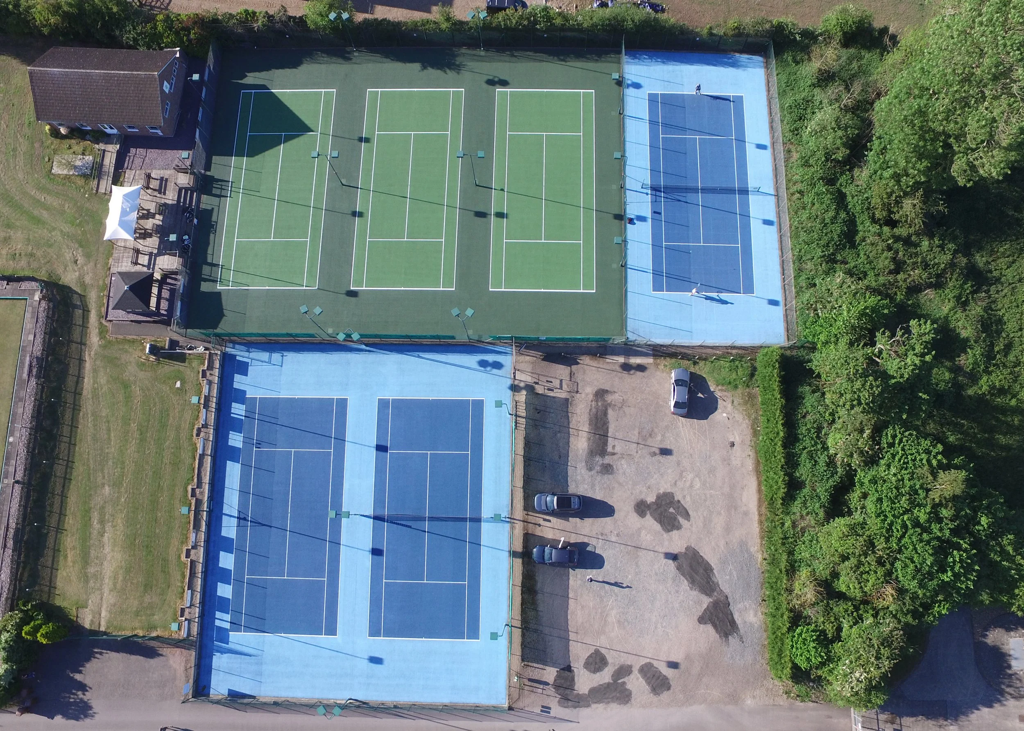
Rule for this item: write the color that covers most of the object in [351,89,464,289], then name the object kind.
green tennis court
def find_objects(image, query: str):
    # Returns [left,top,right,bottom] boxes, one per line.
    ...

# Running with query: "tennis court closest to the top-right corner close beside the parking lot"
[648,92,755,294]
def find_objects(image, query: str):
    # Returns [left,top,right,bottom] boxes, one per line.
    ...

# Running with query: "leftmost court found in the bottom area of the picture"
[229,396,349,637]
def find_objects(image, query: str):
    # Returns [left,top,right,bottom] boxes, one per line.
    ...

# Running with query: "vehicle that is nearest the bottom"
[532,537,579,566]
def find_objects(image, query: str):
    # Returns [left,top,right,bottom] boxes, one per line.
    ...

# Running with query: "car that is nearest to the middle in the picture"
[533,491,582,514]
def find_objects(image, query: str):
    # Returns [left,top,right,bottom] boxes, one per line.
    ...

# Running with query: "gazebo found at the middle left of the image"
[111,271,161,314]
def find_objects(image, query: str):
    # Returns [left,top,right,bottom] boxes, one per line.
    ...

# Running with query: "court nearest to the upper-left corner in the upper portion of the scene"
[218,90,336,288]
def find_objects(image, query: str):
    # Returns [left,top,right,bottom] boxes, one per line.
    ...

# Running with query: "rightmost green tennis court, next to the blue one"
[490,89,595,291]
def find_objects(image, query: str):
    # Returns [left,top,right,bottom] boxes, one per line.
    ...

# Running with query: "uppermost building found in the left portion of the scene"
[28,45,185,136]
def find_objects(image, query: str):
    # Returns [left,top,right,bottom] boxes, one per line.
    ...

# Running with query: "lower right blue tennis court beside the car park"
[368,398,485,641]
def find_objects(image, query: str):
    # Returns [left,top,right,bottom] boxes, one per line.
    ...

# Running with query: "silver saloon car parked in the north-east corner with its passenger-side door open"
[669,370,699,416]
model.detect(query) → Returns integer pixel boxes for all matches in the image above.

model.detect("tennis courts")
[351,89,464,289]
[490,89,595,291]
[368,398,485,641]
[229,396,349,637]
[648,92,755,294]
[218,90,336,288]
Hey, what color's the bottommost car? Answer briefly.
blue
